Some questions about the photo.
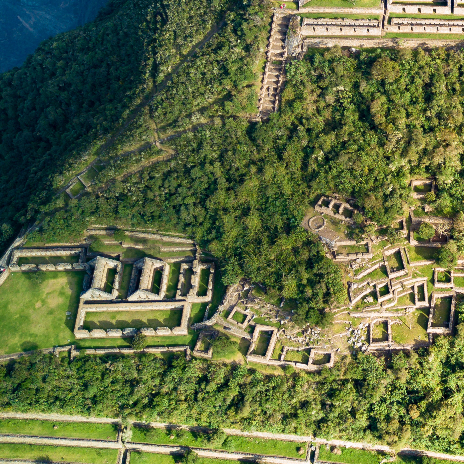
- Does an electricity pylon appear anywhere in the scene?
No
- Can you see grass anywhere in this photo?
Yes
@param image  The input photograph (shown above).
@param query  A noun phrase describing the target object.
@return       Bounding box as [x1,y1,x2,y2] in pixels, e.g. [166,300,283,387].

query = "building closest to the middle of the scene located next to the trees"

[175,265,214,308]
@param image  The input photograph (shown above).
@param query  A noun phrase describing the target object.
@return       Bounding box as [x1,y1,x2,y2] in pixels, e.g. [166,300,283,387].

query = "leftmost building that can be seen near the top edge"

[301,16,382,36]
